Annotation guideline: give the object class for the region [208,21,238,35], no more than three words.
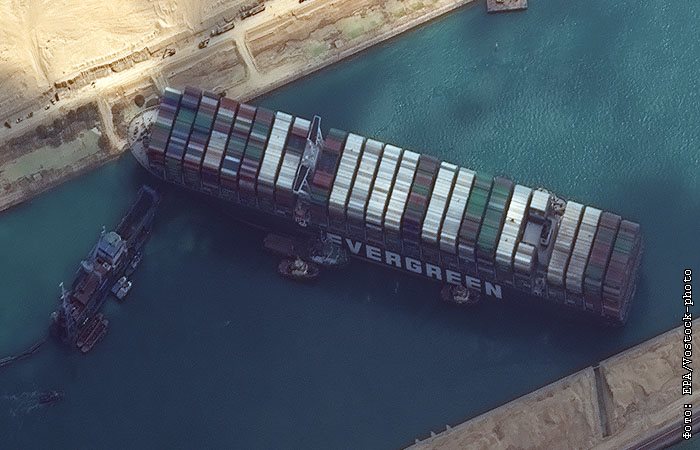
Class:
vehicle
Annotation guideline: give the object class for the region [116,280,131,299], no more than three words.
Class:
boat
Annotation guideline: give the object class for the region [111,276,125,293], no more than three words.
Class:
boat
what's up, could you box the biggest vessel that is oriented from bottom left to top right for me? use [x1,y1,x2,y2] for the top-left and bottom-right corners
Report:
[44,179,164,343]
